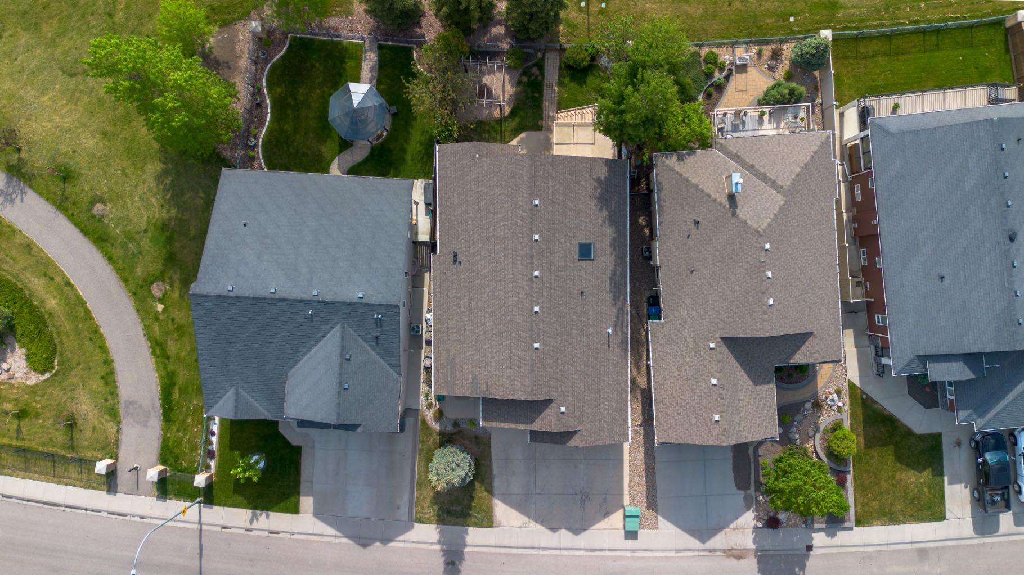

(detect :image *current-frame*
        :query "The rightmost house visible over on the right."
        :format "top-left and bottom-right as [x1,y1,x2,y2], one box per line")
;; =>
[850,104,1024,432]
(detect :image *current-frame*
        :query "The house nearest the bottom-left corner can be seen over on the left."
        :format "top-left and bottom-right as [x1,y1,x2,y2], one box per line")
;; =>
[190,168,421,432]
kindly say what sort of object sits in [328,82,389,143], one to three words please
gazebo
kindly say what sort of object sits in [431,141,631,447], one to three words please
house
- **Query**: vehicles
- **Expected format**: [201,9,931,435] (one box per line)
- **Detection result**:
[1009,430,1024,496]
[967,430,1012,513]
